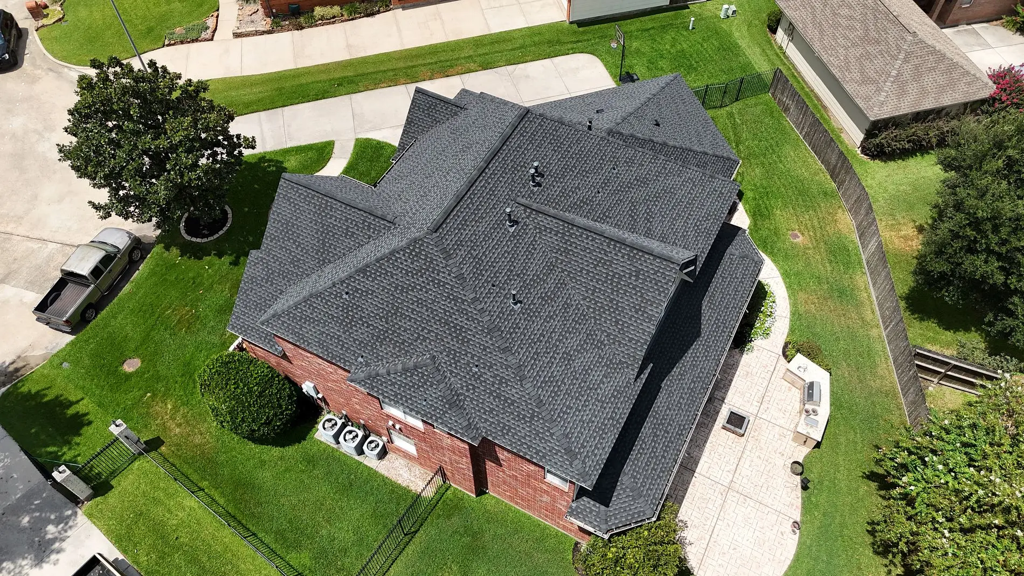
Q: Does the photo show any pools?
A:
No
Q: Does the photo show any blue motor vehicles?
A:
No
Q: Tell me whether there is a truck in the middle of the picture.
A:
No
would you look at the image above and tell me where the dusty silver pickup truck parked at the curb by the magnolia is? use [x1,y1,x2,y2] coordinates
[26,229,143,339]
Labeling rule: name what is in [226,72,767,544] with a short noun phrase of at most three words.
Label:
house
